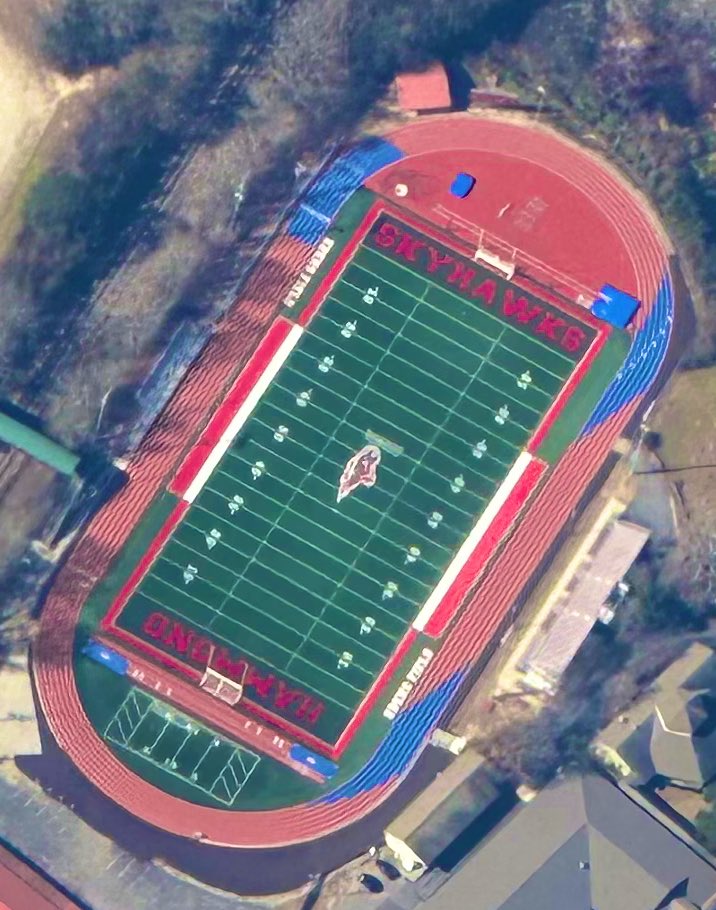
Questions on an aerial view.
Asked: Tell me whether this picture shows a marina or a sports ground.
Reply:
sports ground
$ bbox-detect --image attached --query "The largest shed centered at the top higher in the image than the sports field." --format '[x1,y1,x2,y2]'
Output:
[394,68,451,116]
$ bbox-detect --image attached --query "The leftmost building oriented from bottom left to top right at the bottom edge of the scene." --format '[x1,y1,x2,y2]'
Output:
[382,748,505,875]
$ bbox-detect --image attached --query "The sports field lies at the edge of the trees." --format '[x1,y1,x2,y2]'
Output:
[102,202,608,759]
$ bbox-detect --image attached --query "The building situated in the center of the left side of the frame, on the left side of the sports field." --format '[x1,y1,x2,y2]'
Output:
[0,411,81,491]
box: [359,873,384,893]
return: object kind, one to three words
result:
car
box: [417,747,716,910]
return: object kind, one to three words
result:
building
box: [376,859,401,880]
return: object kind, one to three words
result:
car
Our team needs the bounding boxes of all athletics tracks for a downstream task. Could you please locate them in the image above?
[30,114,673,846]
